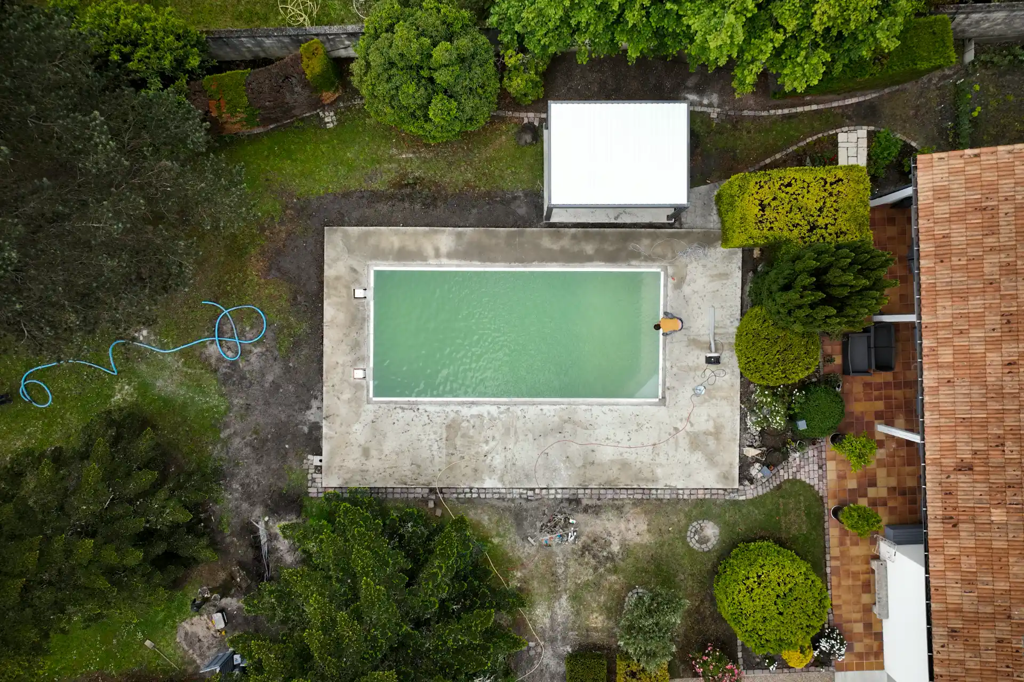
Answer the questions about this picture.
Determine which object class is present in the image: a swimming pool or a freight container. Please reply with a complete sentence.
I can see a swimming pool in this picture.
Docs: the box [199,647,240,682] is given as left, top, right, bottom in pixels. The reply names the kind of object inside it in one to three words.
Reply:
shed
